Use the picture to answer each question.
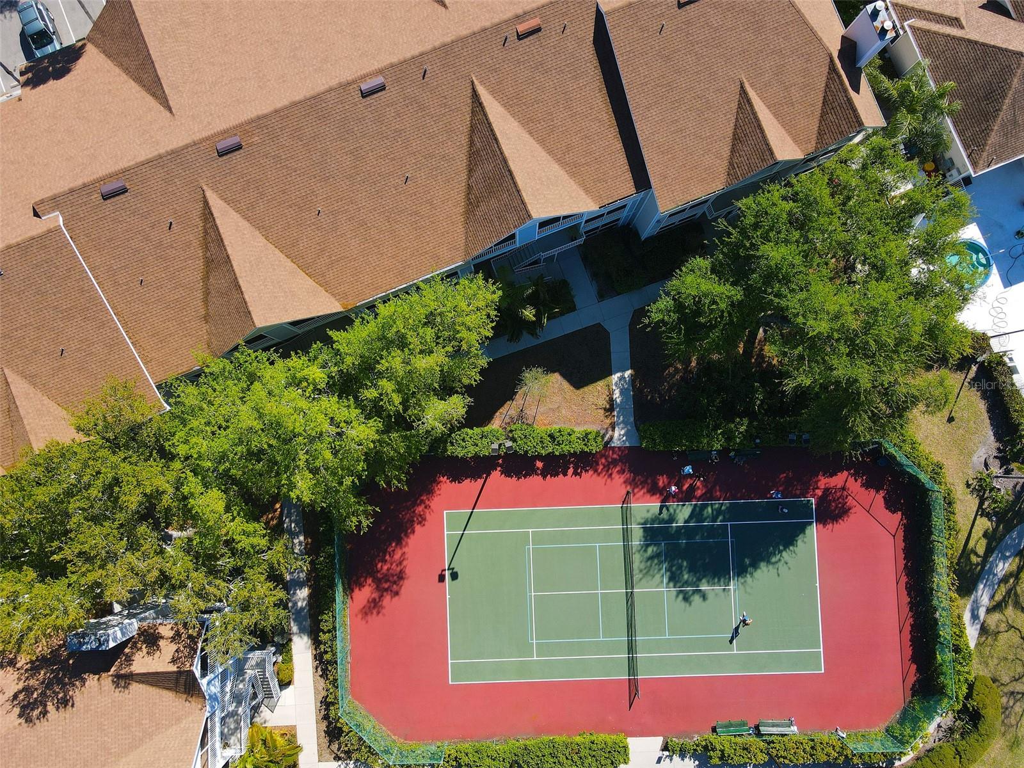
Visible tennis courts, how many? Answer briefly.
1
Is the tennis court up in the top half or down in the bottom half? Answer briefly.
bottom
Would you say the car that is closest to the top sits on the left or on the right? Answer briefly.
left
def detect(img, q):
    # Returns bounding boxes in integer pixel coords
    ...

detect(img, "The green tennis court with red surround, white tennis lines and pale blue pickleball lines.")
[349,443,932,745]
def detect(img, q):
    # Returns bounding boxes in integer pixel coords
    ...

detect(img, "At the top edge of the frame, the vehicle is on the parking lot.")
[22,0,70,54]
